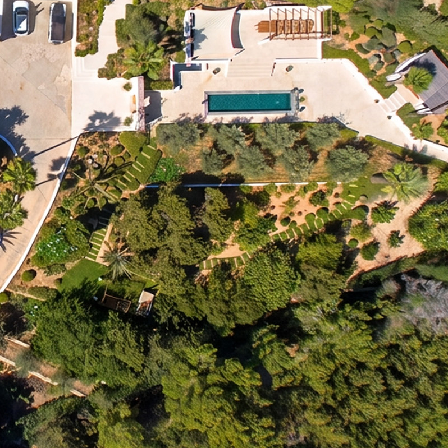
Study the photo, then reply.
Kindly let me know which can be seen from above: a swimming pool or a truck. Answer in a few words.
swimming pool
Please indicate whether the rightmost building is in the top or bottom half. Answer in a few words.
top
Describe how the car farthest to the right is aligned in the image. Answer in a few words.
vertically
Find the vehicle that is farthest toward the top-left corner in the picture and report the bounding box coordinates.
[13,0,31,36]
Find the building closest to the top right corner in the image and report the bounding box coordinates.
[395,49,448,113]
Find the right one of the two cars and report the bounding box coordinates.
[48,1,68,45]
